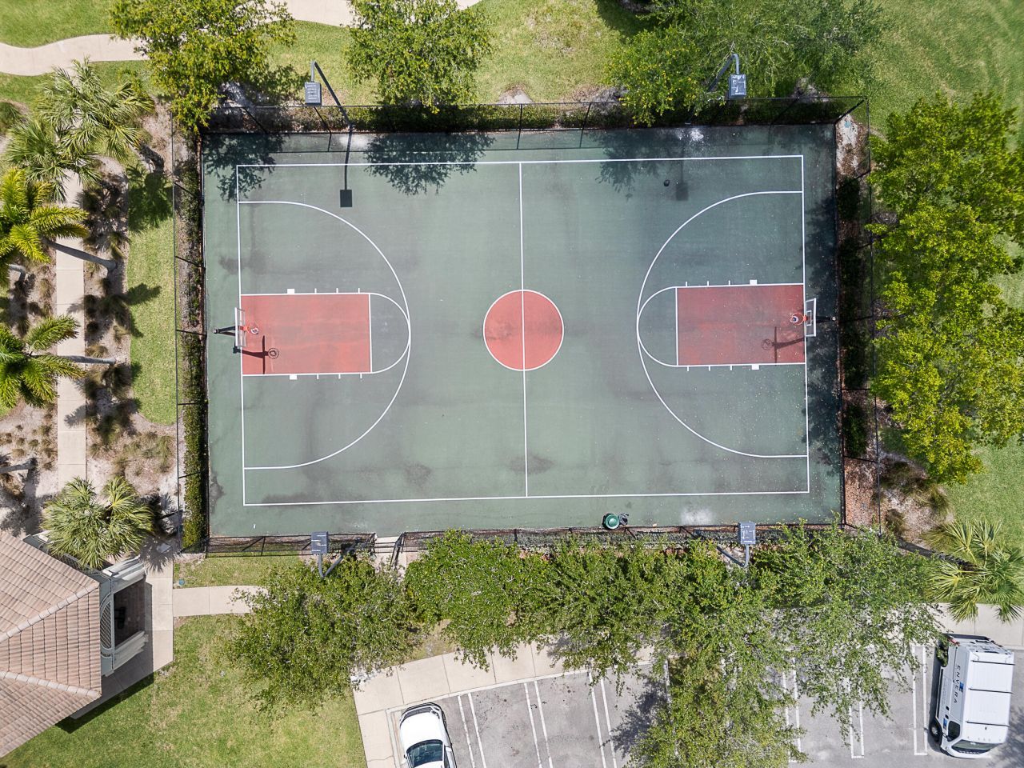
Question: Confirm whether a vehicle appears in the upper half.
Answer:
No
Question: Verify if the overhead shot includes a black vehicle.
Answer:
No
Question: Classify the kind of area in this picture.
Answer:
sports ground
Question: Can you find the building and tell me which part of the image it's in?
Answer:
bottom left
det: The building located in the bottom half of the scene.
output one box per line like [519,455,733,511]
[0,525,145,758]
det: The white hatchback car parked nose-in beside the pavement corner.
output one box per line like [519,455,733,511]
[400,702,454,768]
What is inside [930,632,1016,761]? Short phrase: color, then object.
white van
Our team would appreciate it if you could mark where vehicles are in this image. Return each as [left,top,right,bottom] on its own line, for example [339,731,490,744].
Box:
[930,632,1016,761]
[400,702,454,768]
